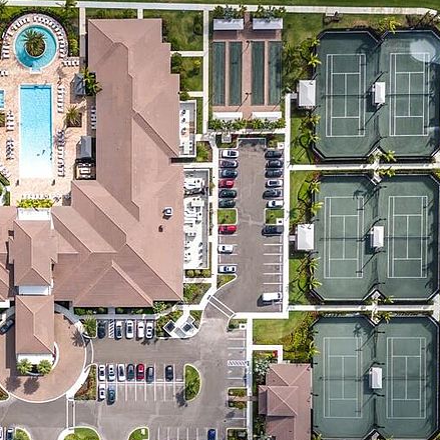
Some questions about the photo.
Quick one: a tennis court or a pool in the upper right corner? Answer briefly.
tennis court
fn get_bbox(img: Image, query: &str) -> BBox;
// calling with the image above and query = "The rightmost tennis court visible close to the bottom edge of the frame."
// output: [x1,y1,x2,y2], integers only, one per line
[375,317,439,440]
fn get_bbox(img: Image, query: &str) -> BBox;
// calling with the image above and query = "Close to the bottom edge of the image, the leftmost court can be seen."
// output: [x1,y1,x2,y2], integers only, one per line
[311,317,375,440]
